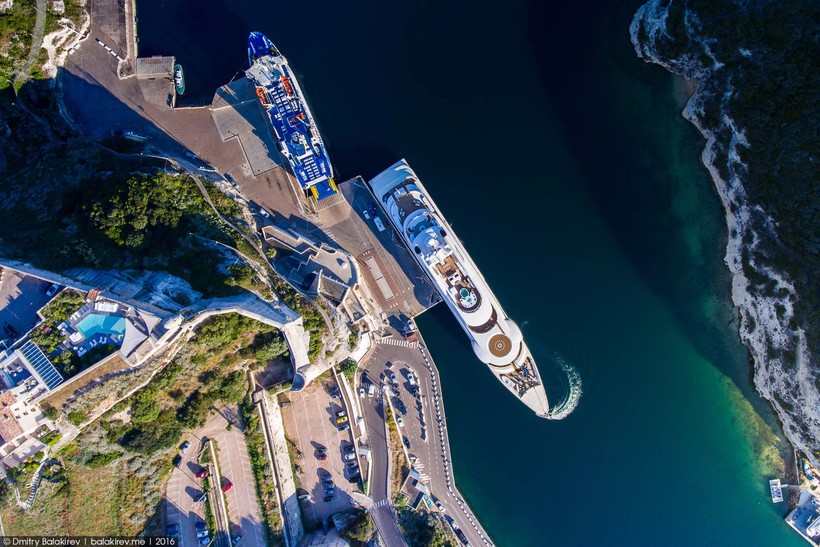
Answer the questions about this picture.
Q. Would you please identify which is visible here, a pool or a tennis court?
pool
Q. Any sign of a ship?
Yes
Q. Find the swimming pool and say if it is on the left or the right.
left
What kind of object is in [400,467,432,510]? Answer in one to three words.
building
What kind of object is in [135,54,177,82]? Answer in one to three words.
shed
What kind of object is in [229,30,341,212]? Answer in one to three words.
ship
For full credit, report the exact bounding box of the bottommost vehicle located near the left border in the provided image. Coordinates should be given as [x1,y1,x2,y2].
[5,324,18,337]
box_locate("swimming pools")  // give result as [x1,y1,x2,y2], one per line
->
[76,312,126,341]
